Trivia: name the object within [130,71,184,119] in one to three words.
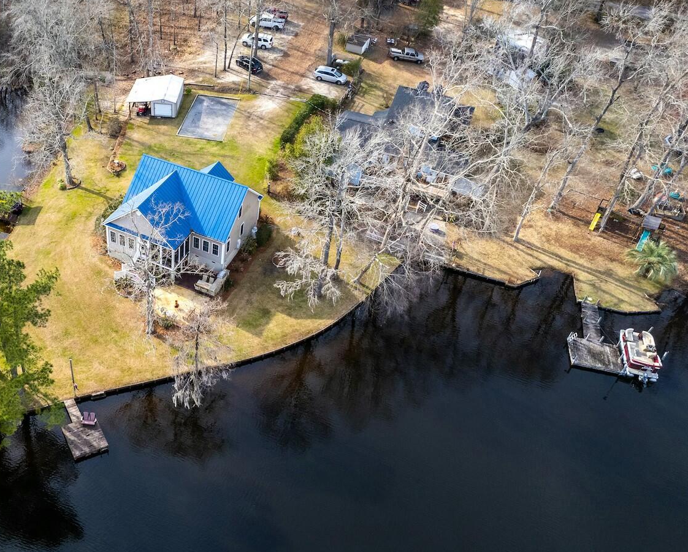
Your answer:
building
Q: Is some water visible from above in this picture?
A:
Yes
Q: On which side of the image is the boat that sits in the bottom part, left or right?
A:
right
